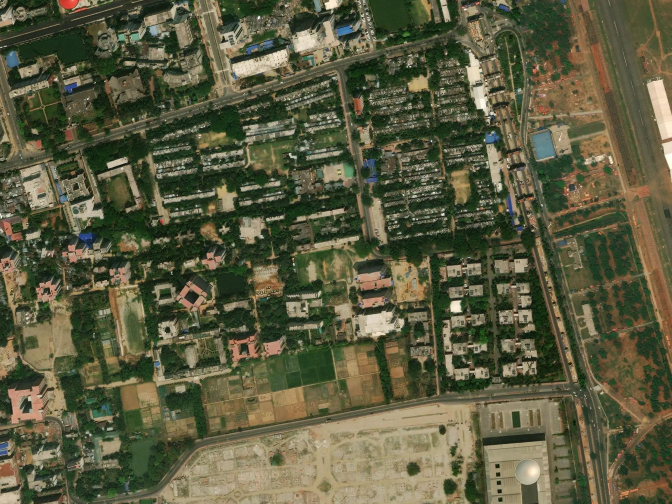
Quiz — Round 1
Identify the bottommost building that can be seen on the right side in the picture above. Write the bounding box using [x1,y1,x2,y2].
[483,437,554,504]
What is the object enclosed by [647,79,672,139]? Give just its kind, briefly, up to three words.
tent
